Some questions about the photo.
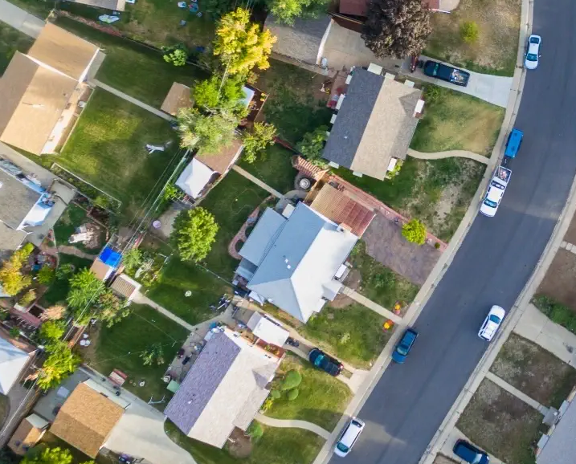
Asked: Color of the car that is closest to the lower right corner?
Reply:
blue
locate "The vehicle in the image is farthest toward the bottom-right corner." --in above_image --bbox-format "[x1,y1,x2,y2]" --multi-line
[452,439,491,464]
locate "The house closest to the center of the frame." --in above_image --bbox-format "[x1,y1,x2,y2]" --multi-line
[236,203,358,323]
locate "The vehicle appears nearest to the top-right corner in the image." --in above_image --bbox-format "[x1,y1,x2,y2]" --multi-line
[524,34,541,69]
